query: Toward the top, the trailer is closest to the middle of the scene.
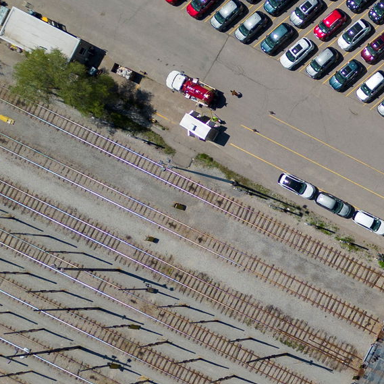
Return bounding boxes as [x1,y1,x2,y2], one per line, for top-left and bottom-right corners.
[184,108,224,139]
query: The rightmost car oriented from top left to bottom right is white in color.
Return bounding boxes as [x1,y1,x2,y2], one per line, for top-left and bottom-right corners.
[352,208,384,237]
